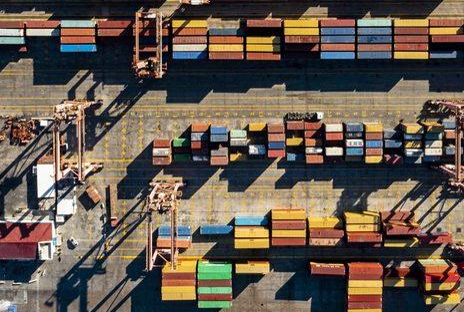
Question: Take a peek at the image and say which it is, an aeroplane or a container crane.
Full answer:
This aerial view contains a container crane.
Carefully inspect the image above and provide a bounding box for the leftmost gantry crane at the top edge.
[131,11,180,82]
